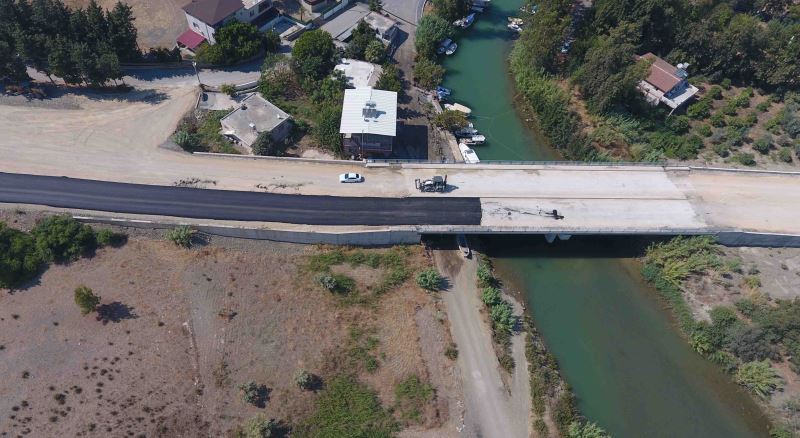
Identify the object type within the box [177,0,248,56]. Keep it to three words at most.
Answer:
house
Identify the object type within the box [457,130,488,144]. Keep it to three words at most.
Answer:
boat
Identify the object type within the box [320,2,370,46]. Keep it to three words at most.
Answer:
shed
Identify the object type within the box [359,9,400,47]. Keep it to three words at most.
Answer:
house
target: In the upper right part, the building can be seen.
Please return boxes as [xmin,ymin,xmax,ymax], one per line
[630,55,699,117]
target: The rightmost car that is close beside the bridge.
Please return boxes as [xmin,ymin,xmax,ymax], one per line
[456,236,470,256]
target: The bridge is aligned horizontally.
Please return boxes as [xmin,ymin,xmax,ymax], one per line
[362,160,715,245]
